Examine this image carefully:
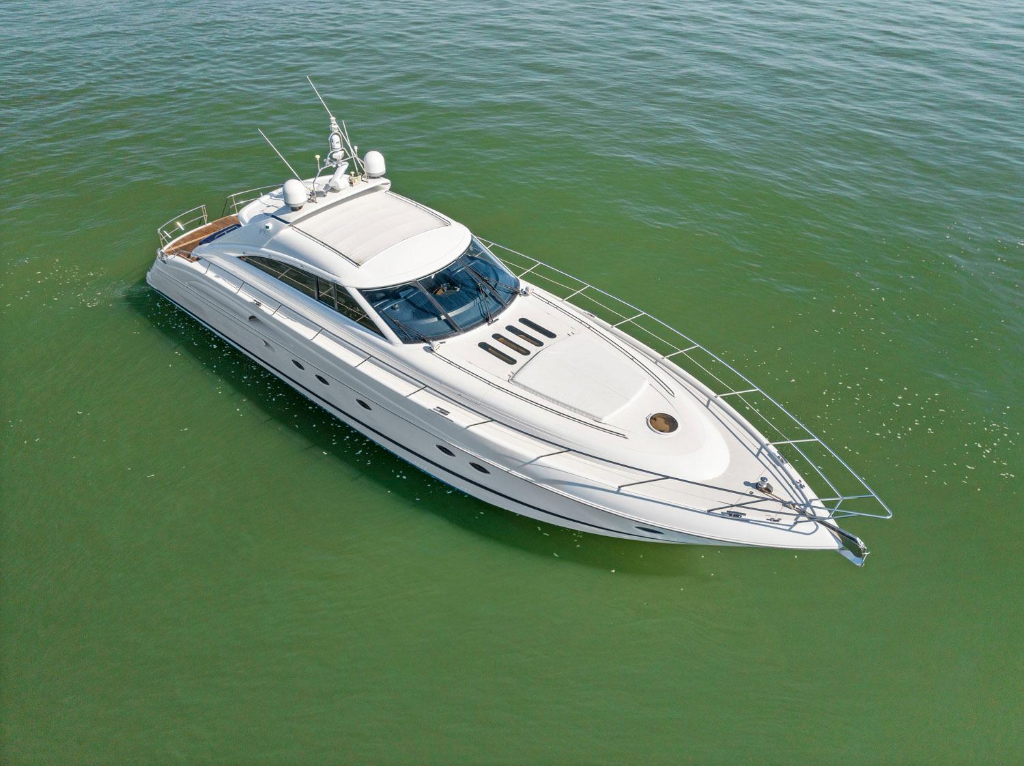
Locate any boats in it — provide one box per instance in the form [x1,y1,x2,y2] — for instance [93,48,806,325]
[147,71,893,564]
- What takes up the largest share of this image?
water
